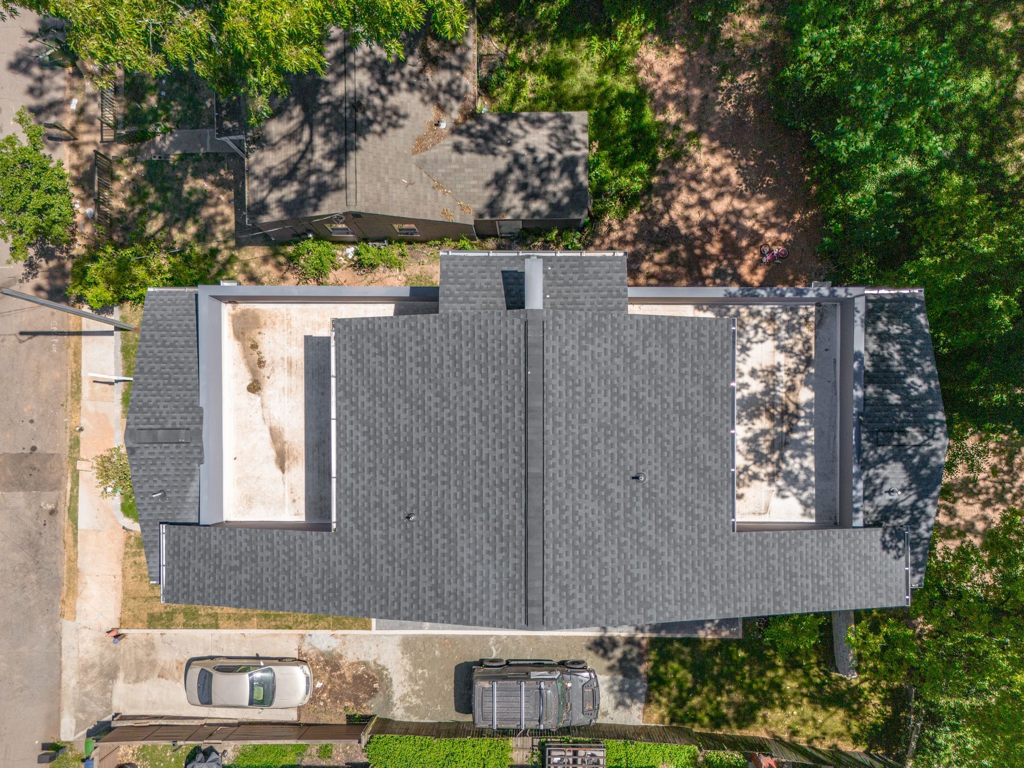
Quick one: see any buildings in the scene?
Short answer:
Yes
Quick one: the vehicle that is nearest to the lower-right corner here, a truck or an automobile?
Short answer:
automobile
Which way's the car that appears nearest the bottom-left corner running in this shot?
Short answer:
from left to right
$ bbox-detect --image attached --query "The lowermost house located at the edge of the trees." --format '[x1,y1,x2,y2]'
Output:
[123,249,947,631]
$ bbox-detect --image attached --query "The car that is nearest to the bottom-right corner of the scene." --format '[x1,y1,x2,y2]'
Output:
[471,656,601,731]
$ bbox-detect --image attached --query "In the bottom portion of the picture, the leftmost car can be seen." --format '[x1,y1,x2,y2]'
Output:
[184,656,316,716]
